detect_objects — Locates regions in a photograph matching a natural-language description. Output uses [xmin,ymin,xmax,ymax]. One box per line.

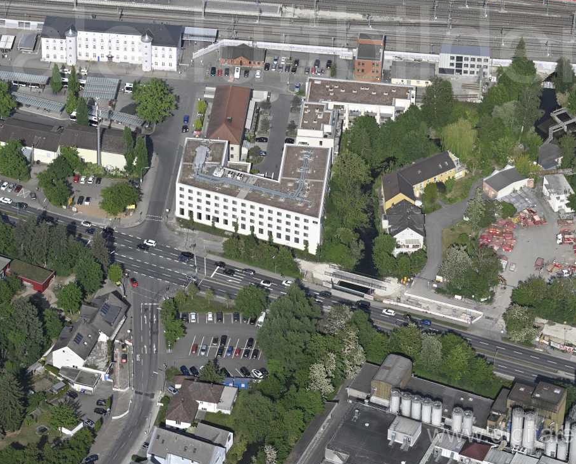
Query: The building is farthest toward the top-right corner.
[438,44,493,75]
